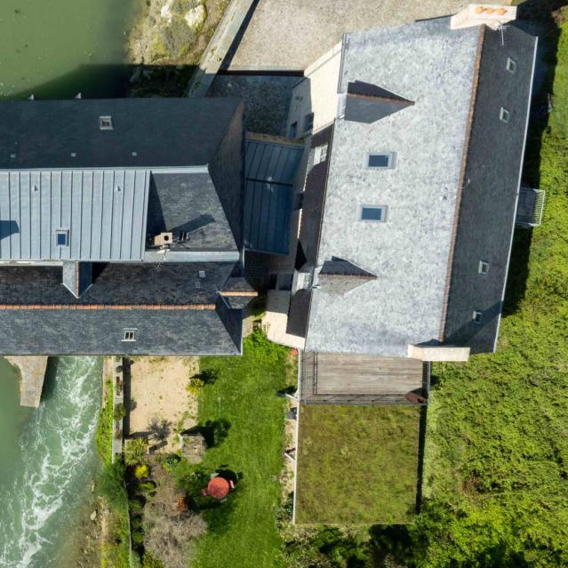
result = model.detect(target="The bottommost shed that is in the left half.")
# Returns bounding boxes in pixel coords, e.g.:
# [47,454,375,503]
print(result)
[179,430,203,458]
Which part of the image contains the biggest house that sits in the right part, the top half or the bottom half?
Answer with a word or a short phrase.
top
